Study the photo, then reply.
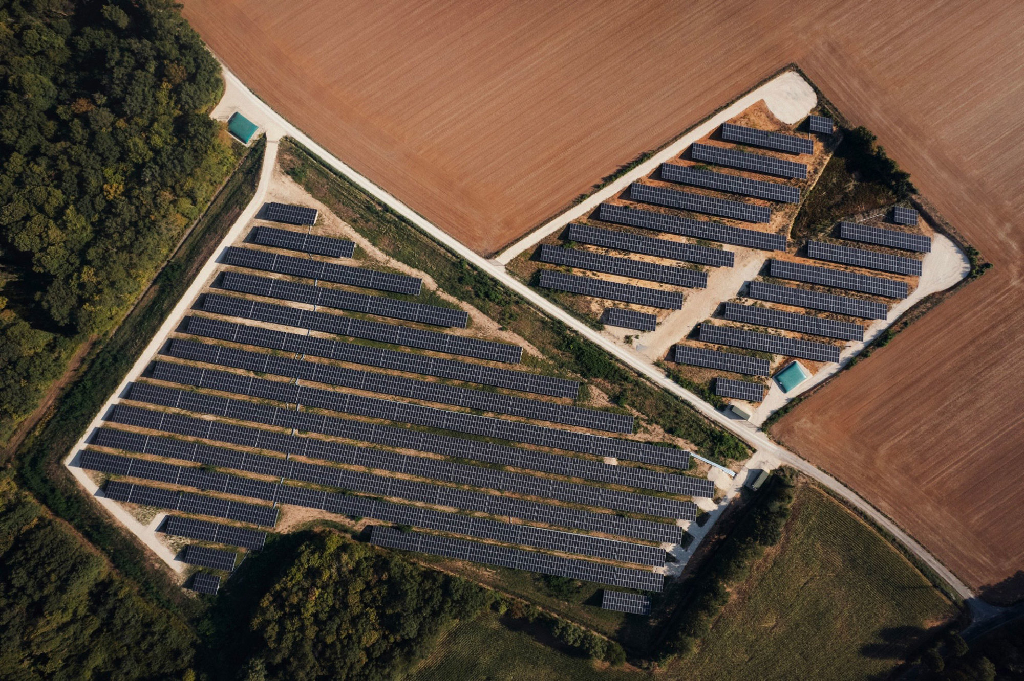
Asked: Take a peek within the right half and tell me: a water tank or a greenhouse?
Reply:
water tank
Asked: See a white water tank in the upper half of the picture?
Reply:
No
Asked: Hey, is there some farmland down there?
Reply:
Yes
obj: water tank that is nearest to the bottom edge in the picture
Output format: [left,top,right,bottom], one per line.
[772,361,808,394]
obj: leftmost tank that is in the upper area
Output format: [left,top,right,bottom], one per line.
[228,111,259,144]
